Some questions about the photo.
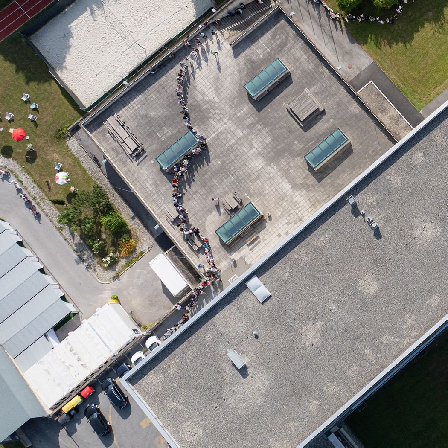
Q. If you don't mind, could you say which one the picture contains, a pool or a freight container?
freight container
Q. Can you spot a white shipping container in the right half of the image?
No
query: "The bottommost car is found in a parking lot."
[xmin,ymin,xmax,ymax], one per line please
[86,404,112,436]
